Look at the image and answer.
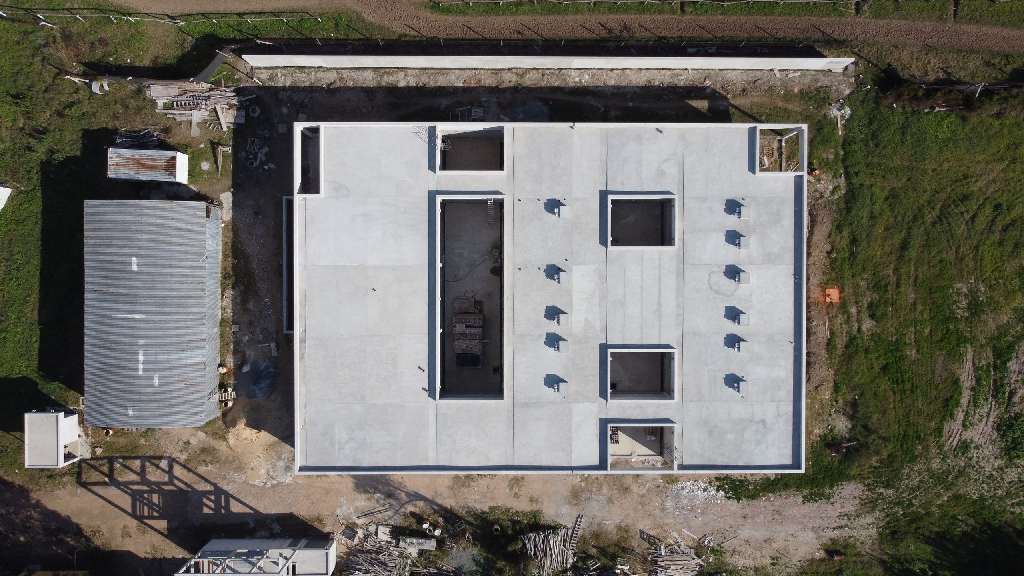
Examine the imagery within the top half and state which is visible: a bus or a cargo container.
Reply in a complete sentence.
Visible within the top half is a cargo container.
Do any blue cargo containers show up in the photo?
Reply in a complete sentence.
No, the frame has no blue cargo container in it.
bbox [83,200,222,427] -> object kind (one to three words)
shed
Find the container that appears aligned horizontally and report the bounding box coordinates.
[107,148,189,184]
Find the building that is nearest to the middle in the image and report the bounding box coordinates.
[294,123,808,474]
